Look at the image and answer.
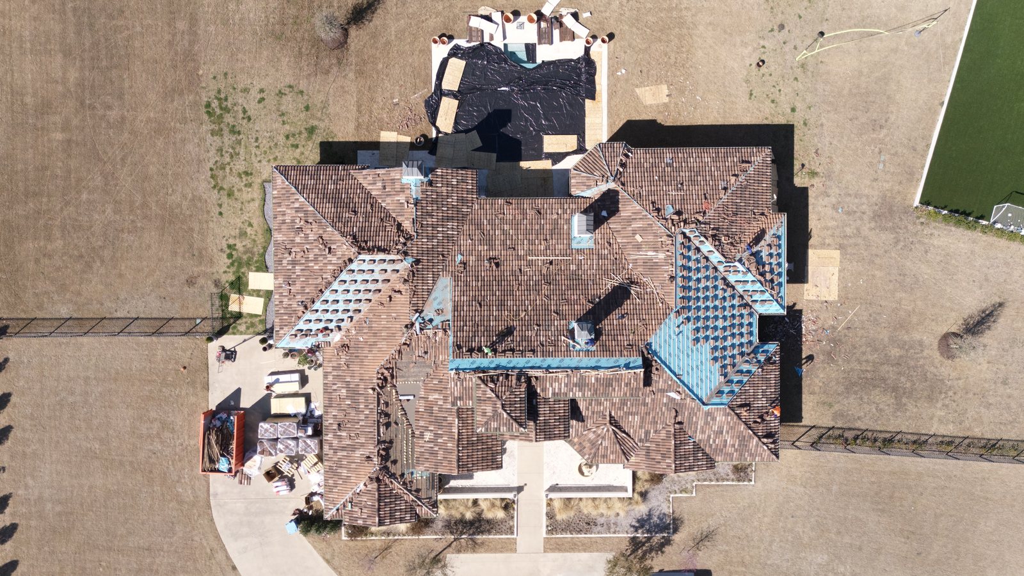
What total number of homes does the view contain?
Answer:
1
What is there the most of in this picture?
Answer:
grass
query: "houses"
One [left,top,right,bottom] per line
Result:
[271,141,788,528]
